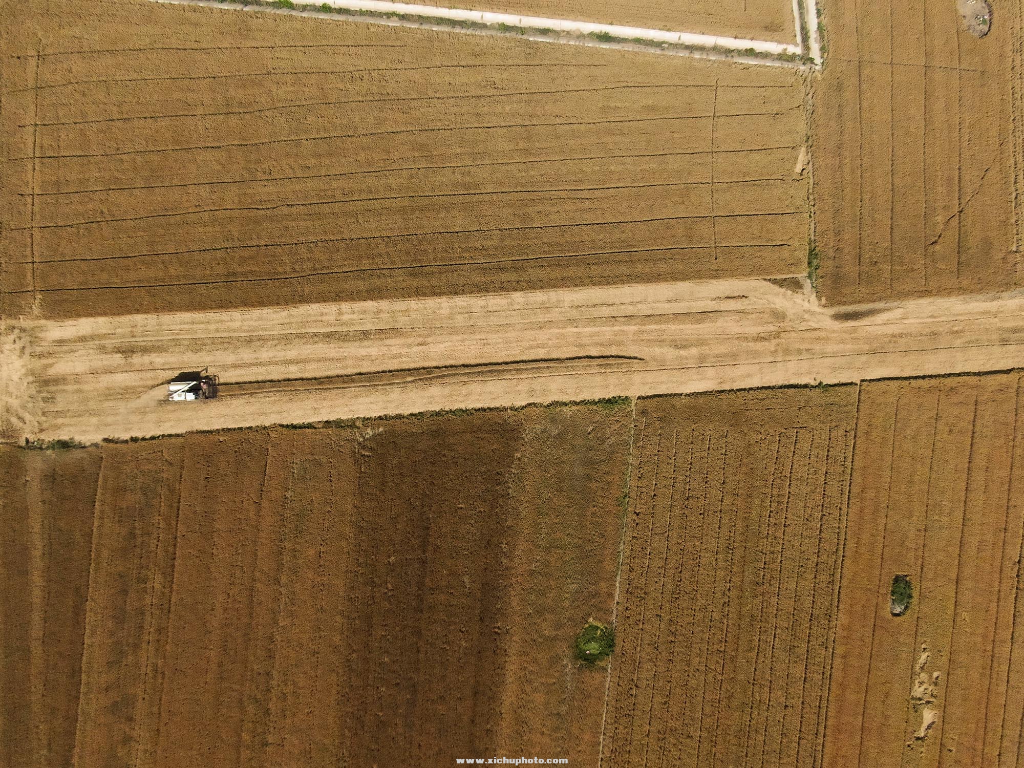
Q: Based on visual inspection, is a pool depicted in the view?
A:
No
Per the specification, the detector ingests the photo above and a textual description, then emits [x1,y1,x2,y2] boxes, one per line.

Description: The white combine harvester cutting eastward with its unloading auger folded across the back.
[169,378,219,403]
